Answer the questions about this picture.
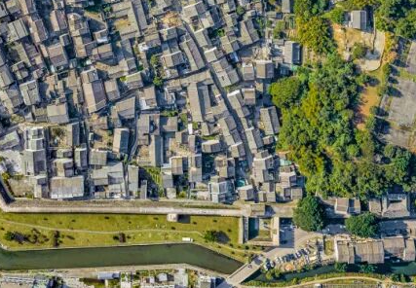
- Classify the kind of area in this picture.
residential area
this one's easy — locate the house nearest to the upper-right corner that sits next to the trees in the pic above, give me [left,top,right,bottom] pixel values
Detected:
[349,9,371,30]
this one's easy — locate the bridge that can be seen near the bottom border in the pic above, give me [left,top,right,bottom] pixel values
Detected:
[221,248,273,288]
